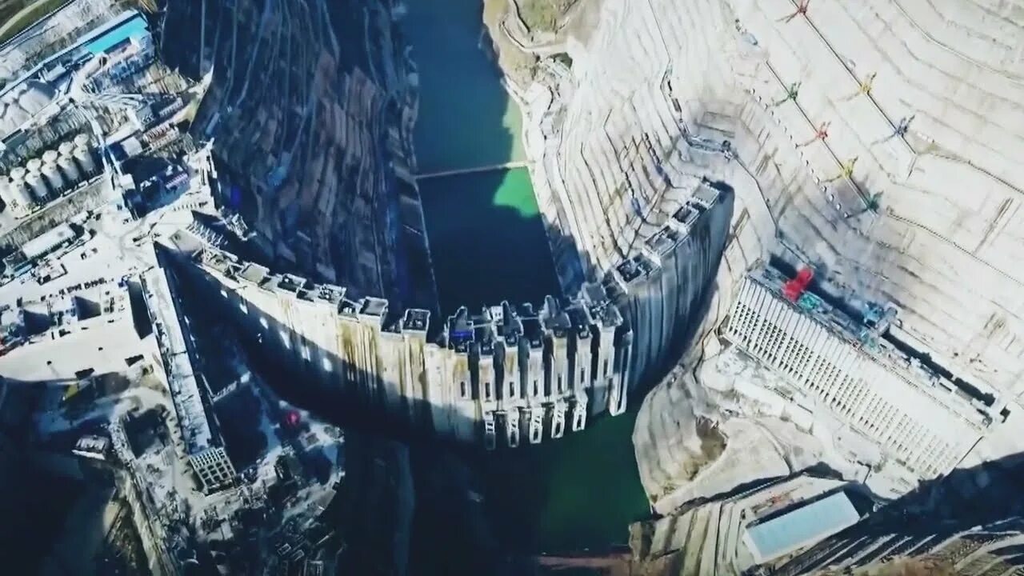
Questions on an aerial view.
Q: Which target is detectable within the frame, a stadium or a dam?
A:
dam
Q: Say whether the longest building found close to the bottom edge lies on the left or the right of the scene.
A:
right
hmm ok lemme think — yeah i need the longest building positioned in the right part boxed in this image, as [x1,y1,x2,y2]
[740,489,861,565]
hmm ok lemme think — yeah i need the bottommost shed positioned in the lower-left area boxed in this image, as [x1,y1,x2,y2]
[71,436,107,462]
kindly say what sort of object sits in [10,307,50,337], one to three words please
shed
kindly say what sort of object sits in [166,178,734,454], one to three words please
dam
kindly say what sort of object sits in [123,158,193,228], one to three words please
building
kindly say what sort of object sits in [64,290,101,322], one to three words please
shed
